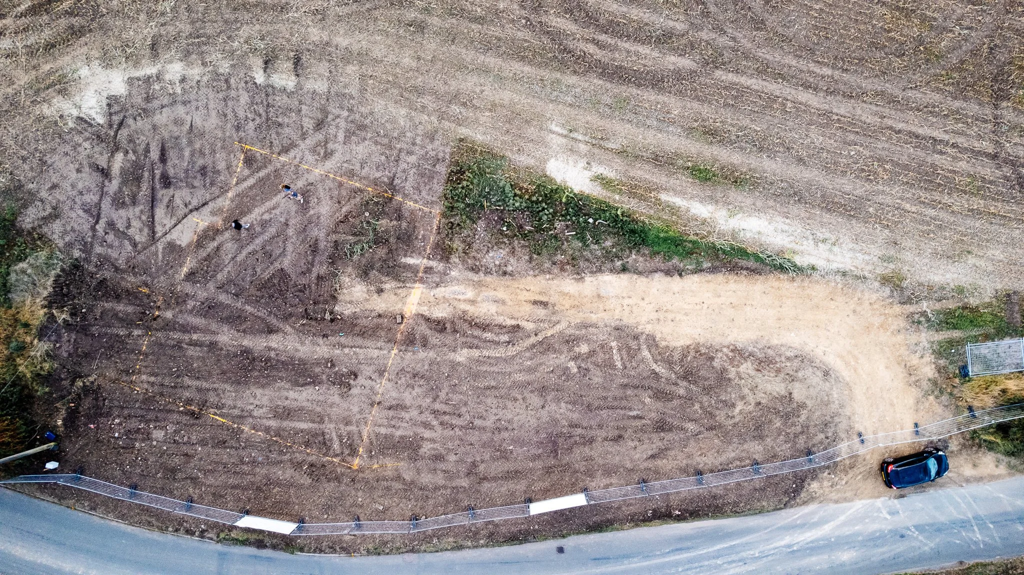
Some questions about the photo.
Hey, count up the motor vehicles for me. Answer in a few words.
1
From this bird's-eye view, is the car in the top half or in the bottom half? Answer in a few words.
bottom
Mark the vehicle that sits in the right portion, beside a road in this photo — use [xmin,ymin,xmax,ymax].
[879,447,949,491]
